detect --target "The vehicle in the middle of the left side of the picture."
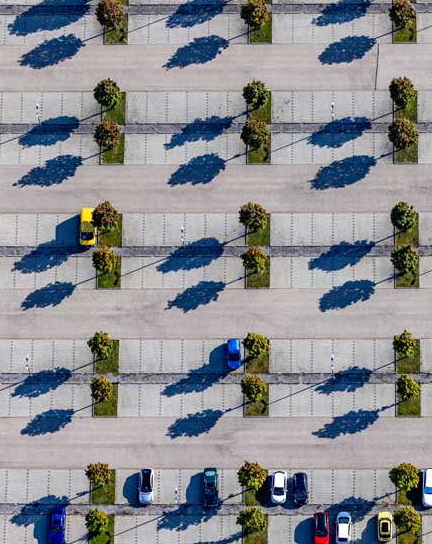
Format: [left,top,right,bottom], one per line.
[78,207,96,247]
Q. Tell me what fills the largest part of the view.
paved ground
